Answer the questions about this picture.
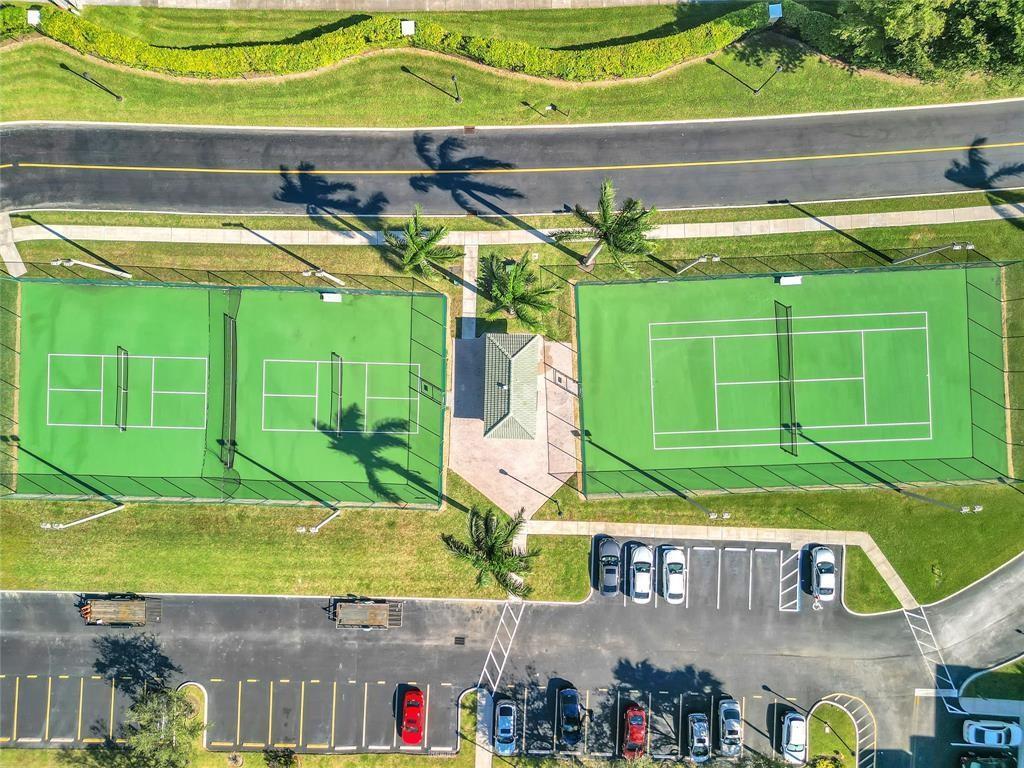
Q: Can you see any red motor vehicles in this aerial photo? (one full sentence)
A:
Yes, there's a red motor vehicle here.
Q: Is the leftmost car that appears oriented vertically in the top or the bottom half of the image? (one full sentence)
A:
Seen from above, the leftmost car that appears oriented vertically lies in the bottom half of the view.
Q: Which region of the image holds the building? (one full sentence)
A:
The building is in the center part of the image.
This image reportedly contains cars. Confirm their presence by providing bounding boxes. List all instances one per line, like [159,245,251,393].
[808,545,837,600]
[961,749,1020,768]
[963,718,1022,748]
[558,685,583,743]
[622,703,647,758]
[400,687,426,743]
[661,548,688,603]
[779,709,807,763]
[493,696,518,753]
[686,709,712,760]
[717,696,745,754]
[597,538,623,595]
[629,545,655,602]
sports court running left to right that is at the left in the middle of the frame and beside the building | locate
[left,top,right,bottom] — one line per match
[17,283,445,504]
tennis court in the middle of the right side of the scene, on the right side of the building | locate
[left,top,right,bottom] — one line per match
[577,267,1009,496]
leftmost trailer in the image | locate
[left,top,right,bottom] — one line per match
[73,597,162,629]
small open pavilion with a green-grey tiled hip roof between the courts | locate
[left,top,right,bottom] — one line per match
[483,332,539,440]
